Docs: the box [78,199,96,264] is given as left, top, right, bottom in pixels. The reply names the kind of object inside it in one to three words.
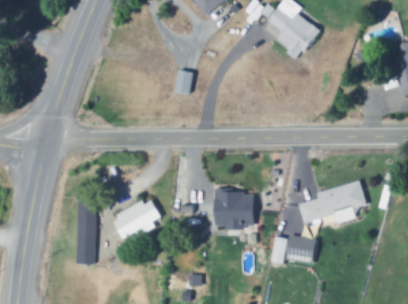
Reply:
shed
